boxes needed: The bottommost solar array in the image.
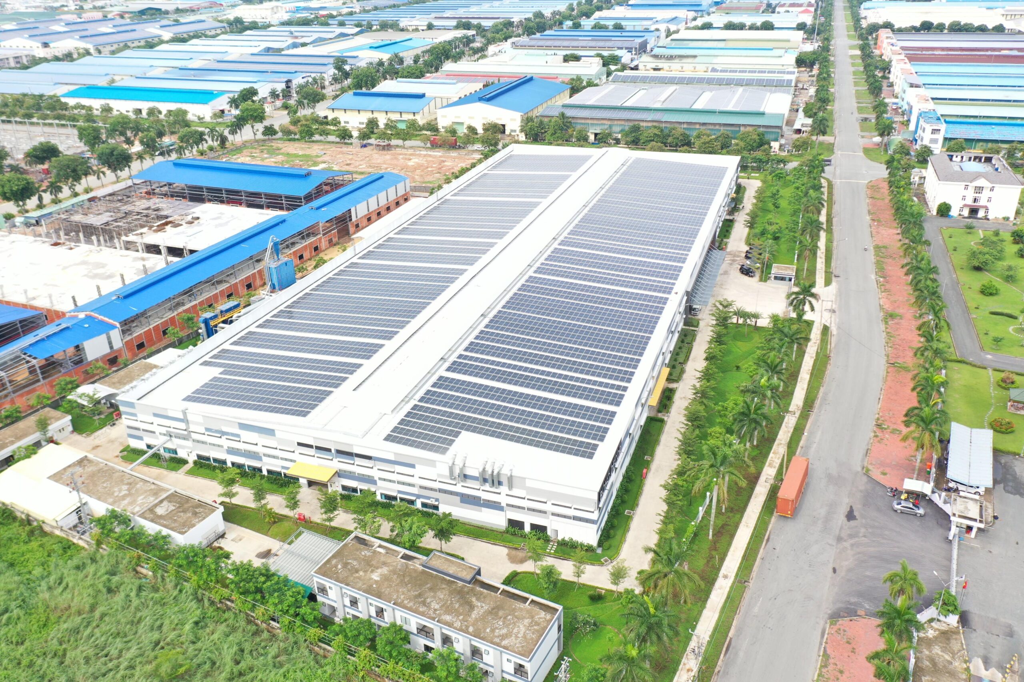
[523,157,727,306]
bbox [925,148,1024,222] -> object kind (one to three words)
building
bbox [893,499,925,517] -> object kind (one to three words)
car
